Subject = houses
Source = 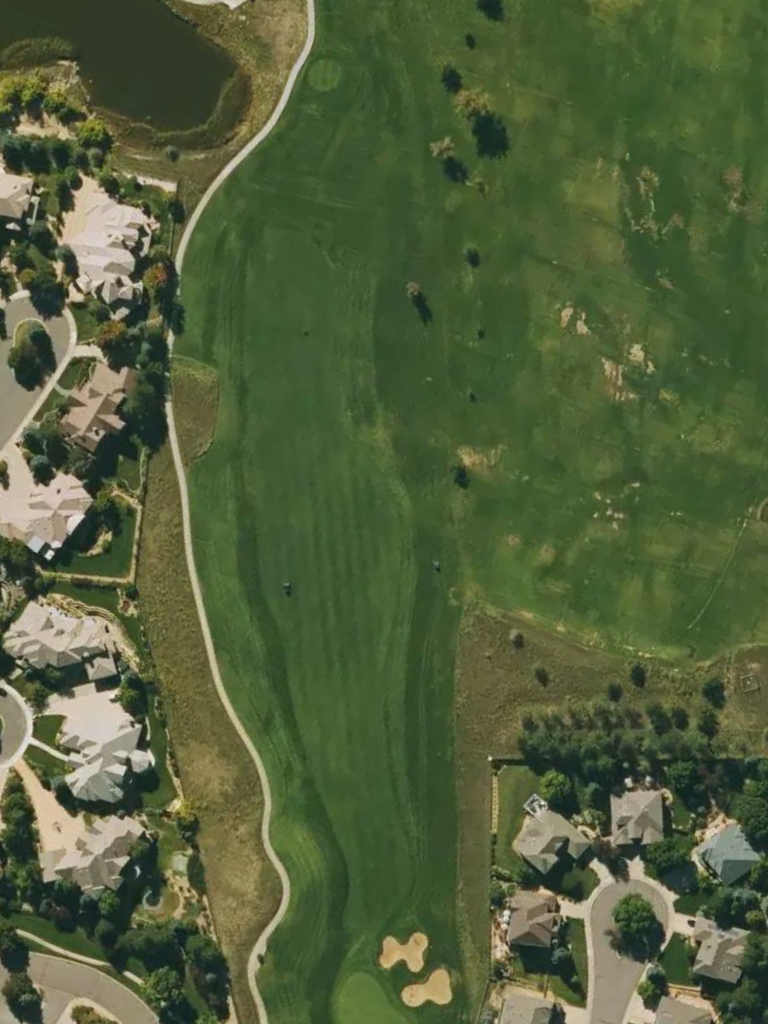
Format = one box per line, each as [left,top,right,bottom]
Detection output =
[53,360,139,454]
[507,892,565,951]
[72,198,148,322]
[692,915,750,990]
[698,824,763,886]
[504,999,562,1024]
[517,807,598,876]
[0,174,31,216]
[0,465,94,546]
[61,709,154,810]
[0,602,107,675]
[37,811,151,898]
[610,792,665,846]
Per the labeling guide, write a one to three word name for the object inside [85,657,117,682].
house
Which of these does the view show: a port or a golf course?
golf course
